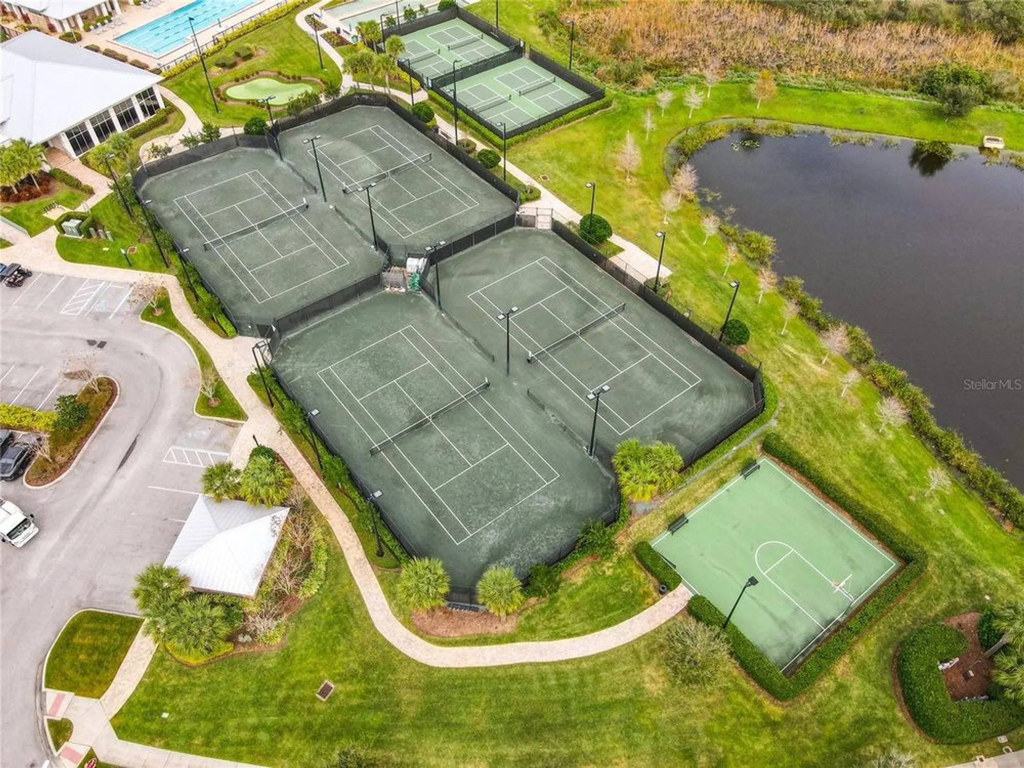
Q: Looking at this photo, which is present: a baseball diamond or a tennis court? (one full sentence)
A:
It is a tennis court that can be seen here.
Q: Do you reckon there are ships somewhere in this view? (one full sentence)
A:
No, no ship is visible in the view.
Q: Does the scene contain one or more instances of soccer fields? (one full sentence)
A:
No, the picture doesn't show any soccer field.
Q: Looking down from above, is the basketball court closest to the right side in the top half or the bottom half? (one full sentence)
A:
The basketball court closest to the right side sits in the bottom half of the picture.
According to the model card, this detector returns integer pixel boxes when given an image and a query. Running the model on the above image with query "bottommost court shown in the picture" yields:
[653,454,902,679]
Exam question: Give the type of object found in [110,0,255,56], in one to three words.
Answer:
swimming pool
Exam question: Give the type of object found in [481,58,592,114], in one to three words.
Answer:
sports court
